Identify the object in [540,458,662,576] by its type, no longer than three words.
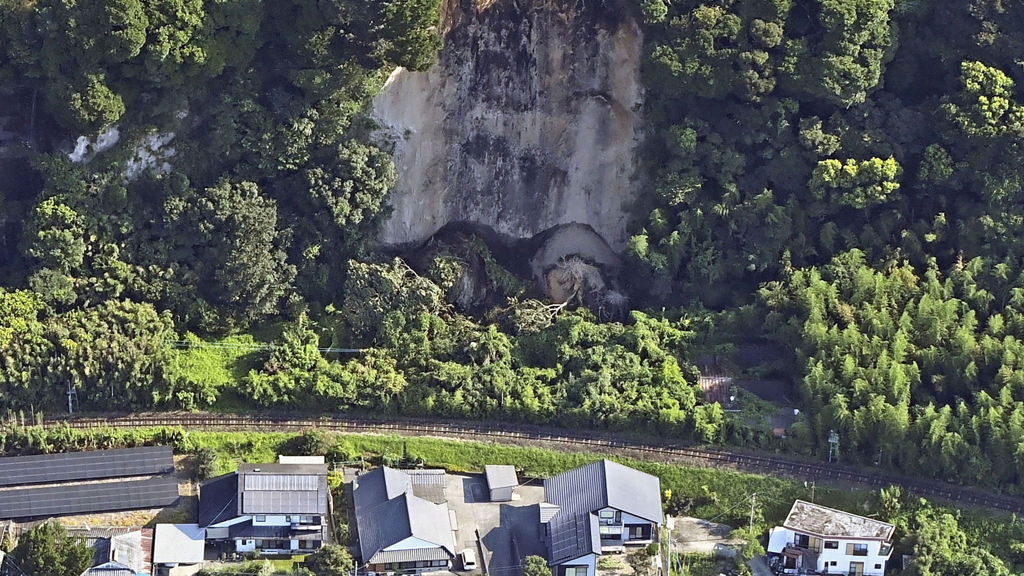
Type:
house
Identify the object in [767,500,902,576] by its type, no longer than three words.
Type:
house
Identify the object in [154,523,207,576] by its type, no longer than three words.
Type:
building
